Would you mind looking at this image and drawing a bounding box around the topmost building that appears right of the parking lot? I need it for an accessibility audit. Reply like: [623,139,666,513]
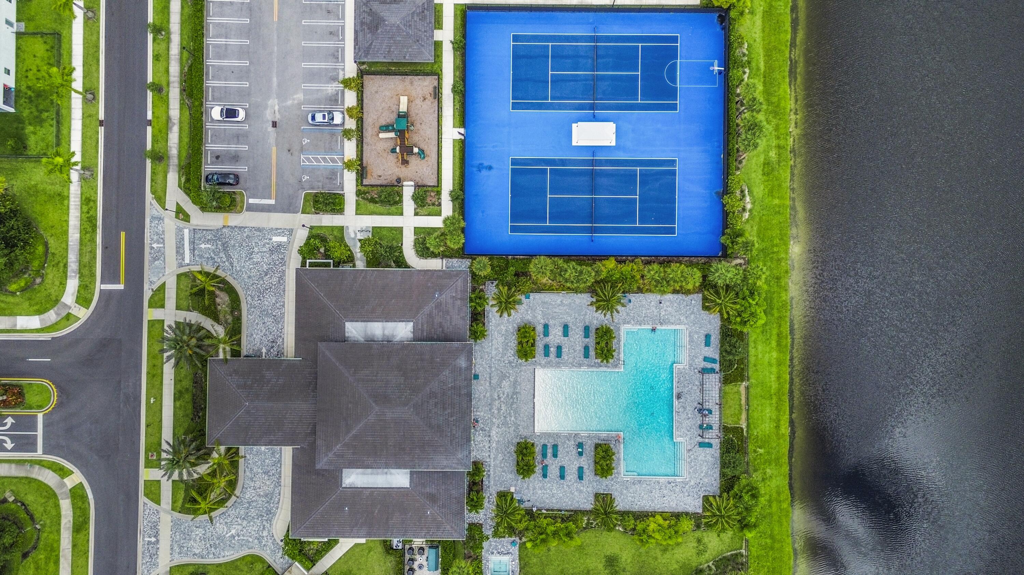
[354,0,435,62]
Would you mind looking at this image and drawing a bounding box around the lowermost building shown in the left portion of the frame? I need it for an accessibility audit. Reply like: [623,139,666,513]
[206,268,473,540]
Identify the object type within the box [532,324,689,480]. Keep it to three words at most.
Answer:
swimming pool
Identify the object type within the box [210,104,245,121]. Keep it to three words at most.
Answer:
car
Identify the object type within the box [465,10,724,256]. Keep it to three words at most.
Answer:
sports court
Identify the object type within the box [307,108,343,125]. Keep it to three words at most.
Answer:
car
